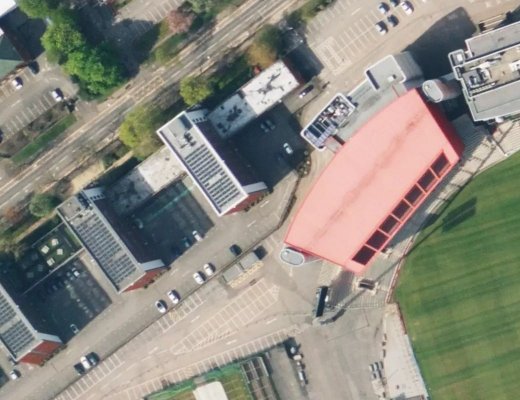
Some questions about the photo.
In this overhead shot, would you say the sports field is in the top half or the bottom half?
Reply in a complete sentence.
You can find the sports field in the bottom half.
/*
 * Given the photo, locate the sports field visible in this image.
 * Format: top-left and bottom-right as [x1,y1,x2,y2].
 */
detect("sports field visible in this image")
[394,150,520,400]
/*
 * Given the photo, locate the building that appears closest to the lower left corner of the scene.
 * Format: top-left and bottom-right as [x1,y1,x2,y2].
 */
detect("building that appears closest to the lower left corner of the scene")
[0,283,67,362]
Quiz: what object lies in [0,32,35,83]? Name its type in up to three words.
building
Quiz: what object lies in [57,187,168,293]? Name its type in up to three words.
building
